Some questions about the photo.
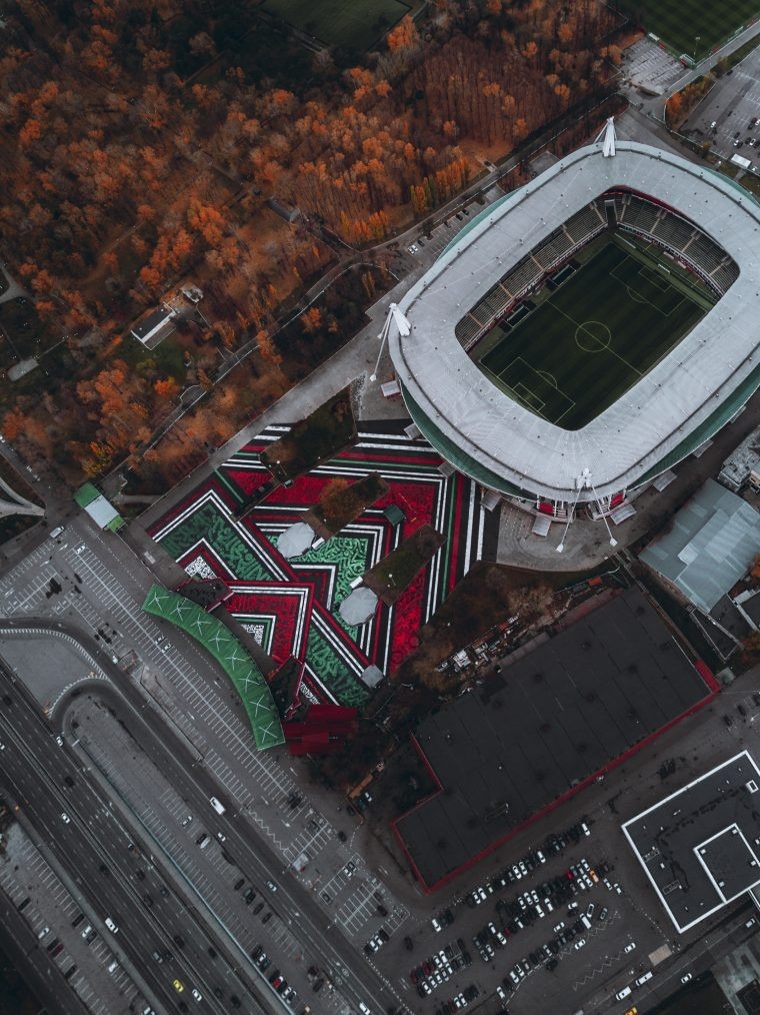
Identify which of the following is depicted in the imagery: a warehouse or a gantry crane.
warehouse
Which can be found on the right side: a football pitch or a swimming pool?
football pitch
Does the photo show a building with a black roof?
Yes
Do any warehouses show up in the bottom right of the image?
Yes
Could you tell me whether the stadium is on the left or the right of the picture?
right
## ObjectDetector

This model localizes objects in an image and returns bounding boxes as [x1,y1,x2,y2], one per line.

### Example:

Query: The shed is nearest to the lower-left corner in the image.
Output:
[118,650,143,675]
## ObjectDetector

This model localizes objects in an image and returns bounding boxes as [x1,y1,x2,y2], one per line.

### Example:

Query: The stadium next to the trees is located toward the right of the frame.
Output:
[368,111,760,553]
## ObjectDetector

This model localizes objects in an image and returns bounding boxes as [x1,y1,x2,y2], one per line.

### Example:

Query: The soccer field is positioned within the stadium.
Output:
[476,238,713,430]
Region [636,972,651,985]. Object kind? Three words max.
vehicle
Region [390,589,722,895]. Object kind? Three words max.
warehouse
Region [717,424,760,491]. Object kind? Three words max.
building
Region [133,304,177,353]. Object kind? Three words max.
house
